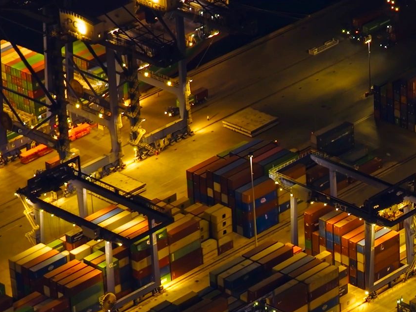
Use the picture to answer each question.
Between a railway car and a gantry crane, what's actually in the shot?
gantry crane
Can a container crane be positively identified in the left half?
Yes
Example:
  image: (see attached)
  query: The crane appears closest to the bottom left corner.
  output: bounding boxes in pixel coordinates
[3,163,176,312]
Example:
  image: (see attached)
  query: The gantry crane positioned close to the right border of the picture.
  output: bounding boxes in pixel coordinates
[259,150,416,301]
